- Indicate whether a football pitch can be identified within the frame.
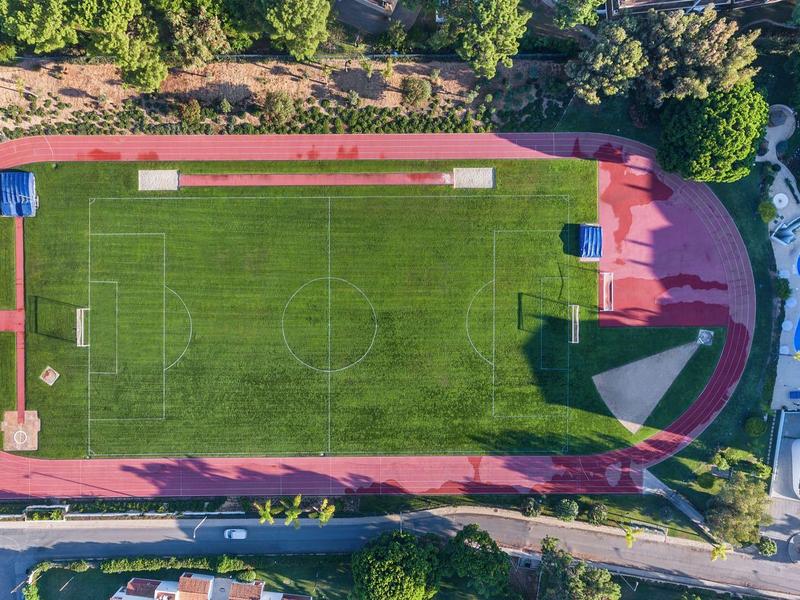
Yes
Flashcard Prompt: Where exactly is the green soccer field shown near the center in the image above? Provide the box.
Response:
[74,188,580,456]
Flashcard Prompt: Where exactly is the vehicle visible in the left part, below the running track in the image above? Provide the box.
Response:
[223,529,246,541]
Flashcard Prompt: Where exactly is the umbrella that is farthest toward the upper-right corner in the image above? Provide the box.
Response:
[770,193,788,208]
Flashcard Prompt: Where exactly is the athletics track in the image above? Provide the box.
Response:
[0,132,756,499]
